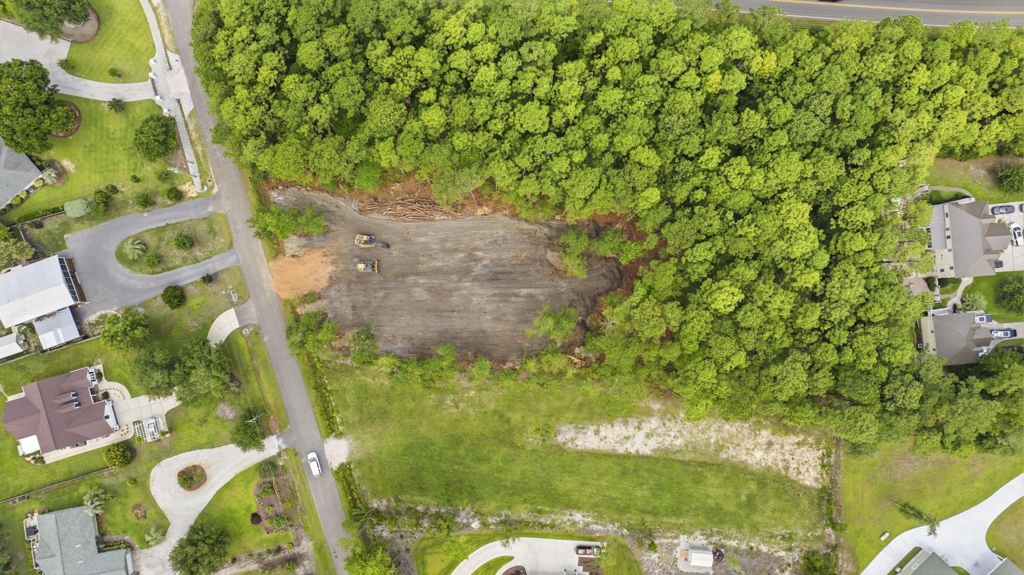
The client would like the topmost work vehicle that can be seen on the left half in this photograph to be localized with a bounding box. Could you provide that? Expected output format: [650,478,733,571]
[357,234,390,249]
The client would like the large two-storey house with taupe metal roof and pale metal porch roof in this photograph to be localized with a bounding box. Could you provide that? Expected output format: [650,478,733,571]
[923,197,1013,277]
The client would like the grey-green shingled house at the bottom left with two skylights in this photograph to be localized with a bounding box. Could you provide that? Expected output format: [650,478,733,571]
[20,503,136,575]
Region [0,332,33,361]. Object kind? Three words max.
shed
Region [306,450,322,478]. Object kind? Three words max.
car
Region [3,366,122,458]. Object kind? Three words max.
house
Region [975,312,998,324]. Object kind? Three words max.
vehicle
